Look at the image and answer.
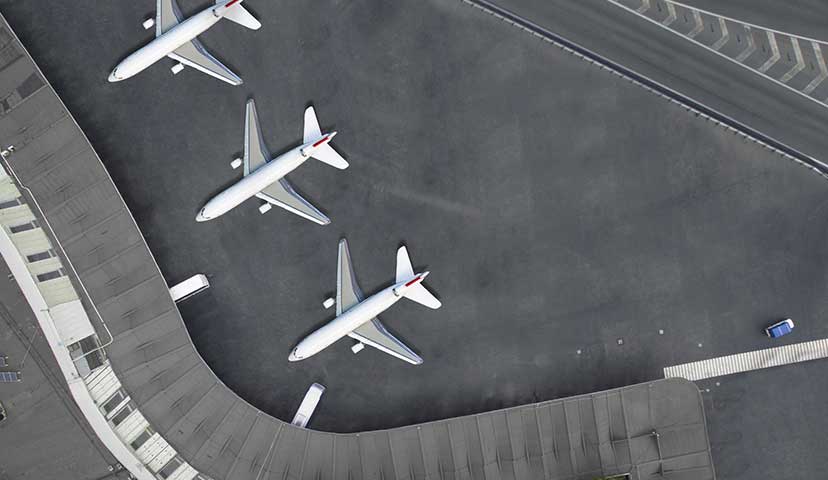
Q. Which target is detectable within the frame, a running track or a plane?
plane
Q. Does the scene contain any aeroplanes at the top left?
Yes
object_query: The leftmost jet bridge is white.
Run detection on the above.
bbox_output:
[169,275,211,304]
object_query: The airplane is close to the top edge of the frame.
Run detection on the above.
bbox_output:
[108,0,260,86]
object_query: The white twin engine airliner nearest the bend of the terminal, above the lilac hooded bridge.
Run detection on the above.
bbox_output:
[289,238,441,365]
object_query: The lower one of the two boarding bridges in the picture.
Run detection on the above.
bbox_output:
[292,383,327,428]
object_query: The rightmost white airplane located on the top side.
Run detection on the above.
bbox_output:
[196,98,349,225]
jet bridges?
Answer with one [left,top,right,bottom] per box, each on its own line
[169,275,211,304]
[292,383,327,428]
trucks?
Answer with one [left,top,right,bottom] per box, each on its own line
[766,317,796,339]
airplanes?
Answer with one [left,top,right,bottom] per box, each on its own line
[289,238,441,365]
[196,98,349,225]
[108,0,260,86]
